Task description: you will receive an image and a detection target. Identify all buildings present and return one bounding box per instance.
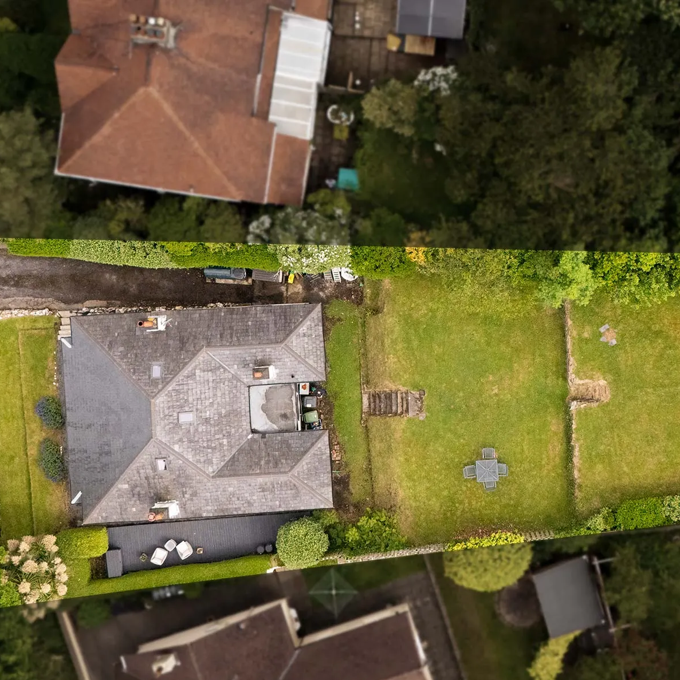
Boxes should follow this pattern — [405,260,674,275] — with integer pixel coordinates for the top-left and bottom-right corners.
[61,301,335,526]
[54,0,335,209]
[396,0,466,55]
[529,543,609,640]
[119,596,437,680]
